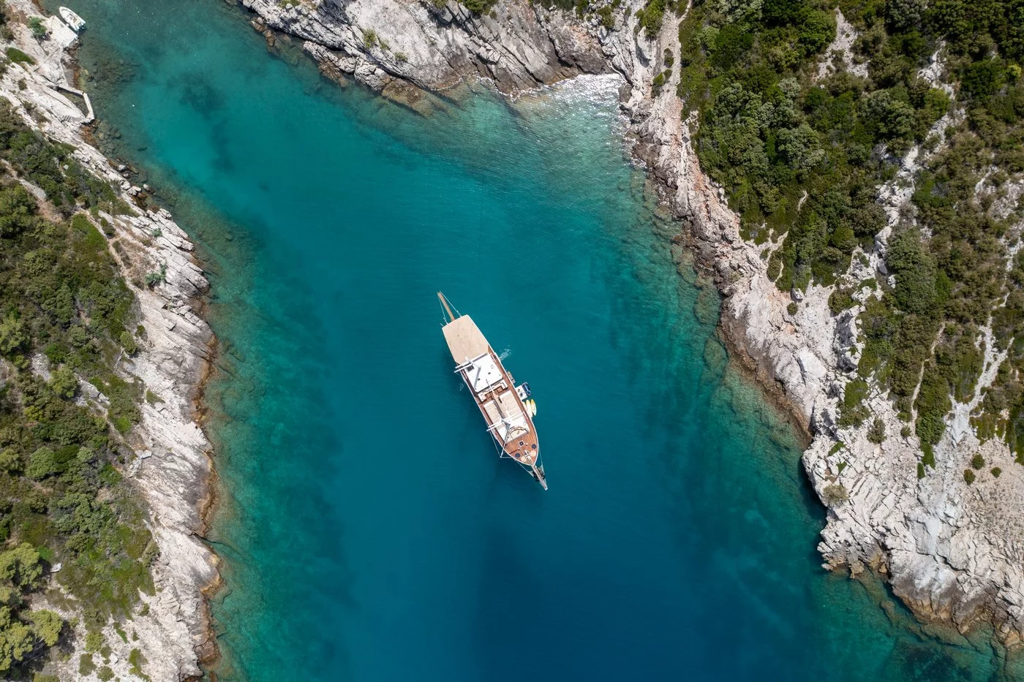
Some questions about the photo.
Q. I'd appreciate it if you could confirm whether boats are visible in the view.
Yes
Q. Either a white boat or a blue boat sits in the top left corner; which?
white boat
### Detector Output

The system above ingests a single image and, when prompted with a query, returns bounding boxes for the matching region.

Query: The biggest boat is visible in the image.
[438,293,548,493]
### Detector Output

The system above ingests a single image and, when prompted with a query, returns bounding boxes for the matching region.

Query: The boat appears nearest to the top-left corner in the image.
[58,5,87,35]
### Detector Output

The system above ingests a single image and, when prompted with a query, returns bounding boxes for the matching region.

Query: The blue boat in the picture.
[520,382,532,397]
